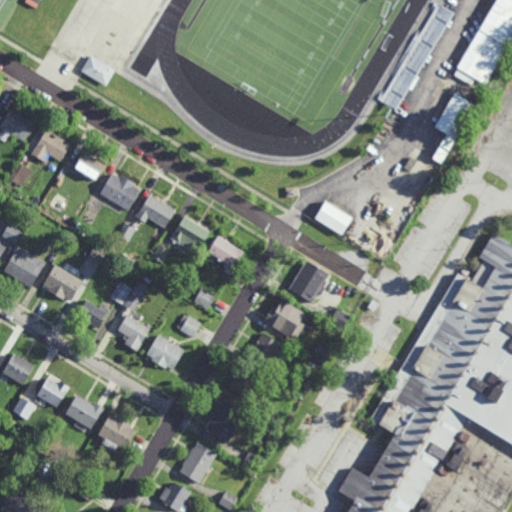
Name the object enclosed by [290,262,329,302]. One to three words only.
house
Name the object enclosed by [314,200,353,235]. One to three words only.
shed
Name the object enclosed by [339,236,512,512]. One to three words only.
building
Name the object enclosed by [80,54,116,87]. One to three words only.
building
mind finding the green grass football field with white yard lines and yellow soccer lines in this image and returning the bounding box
[175,0,407,132]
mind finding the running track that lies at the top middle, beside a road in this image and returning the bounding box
[132,0,427,155]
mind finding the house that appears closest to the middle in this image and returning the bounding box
[208,237,244,270]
